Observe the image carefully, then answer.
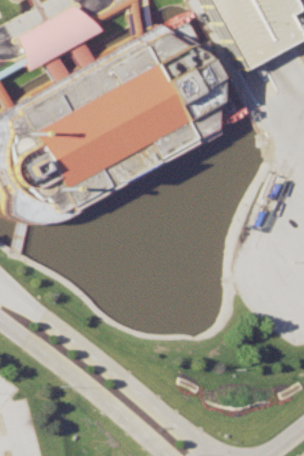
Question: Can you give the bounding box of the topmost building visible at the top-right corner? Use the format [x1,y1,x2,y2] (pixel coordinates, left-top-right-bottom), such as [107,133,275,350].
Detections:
[212,0,304,72]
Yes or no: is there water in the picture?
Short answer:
Yes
